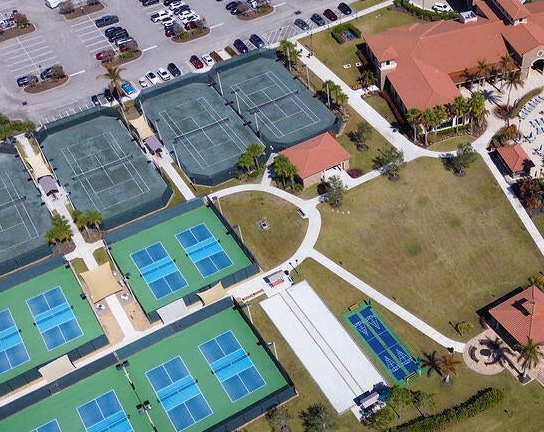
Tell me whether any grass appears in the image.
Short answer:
Yes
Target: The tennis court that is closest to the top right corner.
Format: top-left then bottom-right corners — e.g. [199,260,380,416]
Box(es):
[214,59,337,149]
